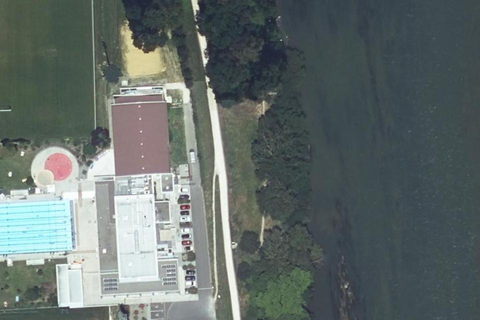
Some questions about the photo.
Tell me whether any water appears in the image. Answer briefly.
Yes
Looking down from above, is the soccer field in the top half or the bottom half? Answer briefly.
top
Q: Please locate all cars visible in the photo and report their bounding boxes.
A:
[183,246,193,251]
[180,234,192,240]
[180,216,190,222]
[184,276,196,281]
[182,240,192,246]
[179,194,190,200]
[180,210,190,216]
[186,270,196,275]
[186,281,196,286]
[179,188,189,193]
[179,204,190,210]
